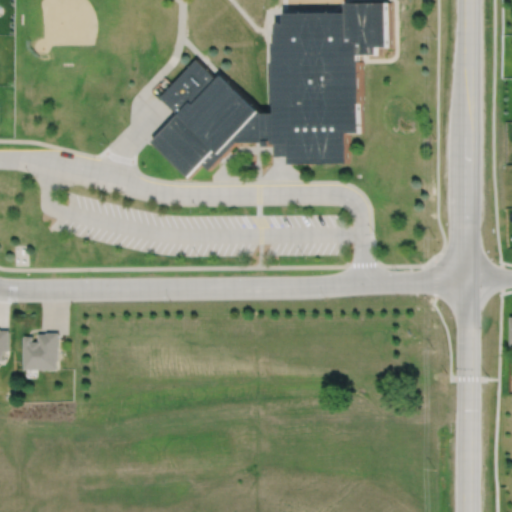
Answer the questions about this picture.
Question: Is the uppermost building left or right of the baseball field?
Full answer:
In the image, the uppermost building sits on the right side of the baseball field.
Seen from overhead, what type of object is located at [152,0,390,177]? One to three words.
building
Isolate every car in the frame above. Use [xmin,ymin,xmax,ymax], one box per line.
[62,152,74,158]
[302,216,310,228]
[318,215,326,226]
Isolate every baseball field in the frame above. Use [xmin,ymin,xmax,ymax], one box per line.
[25,0,98,59]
